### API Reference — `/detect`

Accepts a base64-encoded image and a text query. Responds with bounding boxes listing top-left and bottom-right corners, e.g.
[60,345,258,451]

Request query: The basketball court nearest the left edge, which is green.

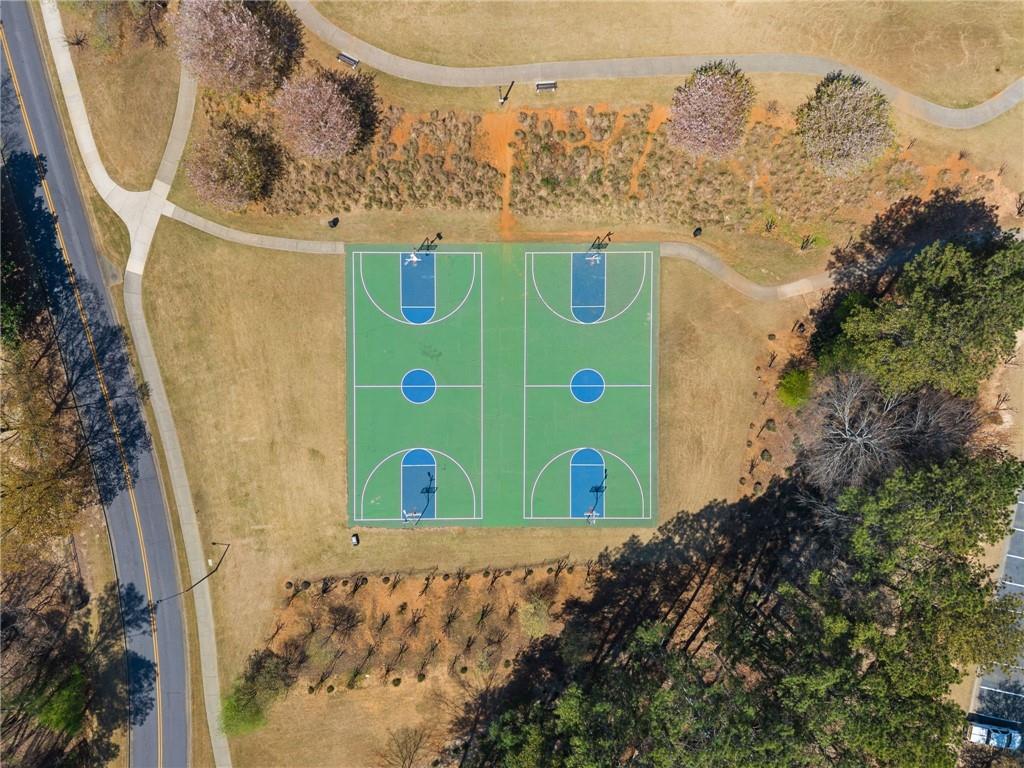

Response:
[346,244,503,528]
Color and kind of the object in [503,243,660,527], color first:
green basketball court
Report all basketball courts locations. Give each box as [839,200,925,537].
[346,244,503,528]
[503,243,660,527]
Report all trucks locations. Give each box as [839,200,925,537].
[970,724,1024,752]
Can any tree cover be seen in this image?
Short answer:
Yes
